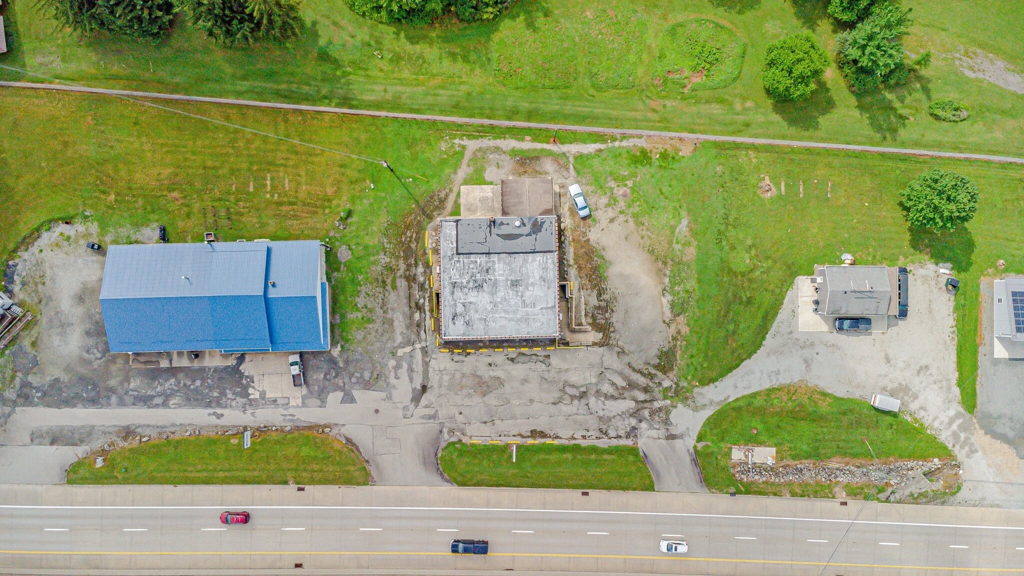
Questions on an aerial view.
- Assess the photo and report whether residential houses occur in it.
Yes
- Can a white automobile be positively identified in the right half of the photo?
Yes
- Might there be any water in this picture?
No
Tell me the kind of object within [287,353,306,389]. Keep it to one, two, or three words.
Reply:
vehicle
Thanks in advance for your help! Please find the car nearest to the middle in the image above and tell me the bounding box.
[570,185,589,218]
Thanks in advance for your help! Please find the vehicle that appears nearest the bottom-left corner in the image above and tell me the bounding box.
[220,509,250,525]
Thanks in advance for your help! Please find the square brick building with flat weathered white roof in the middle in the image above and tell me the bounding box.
[435,217,564,344]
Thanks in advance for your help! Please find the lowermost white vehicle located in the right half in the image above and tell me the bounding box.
[659,538,688,555]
